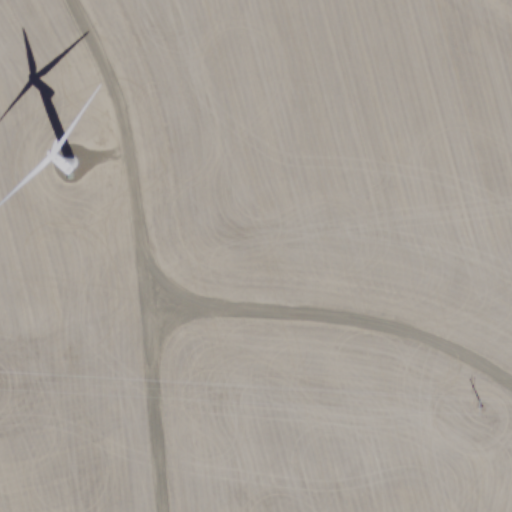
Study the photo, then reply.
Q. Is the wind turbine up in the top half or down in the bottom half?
top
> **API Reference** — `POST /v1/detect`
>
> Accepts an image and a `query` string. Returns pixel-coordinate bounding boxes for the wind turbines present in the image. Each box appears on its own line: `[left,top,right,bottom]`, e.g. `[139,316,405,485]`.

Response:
[0,83,104,206]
